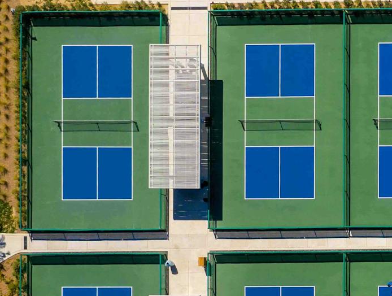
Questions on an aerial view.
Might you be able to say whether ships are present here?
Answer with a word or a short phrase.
No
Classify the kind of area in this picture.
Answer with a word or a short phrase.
sports ground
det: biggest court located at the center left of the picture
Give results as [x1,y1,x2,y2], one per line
[27,13,168,231]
